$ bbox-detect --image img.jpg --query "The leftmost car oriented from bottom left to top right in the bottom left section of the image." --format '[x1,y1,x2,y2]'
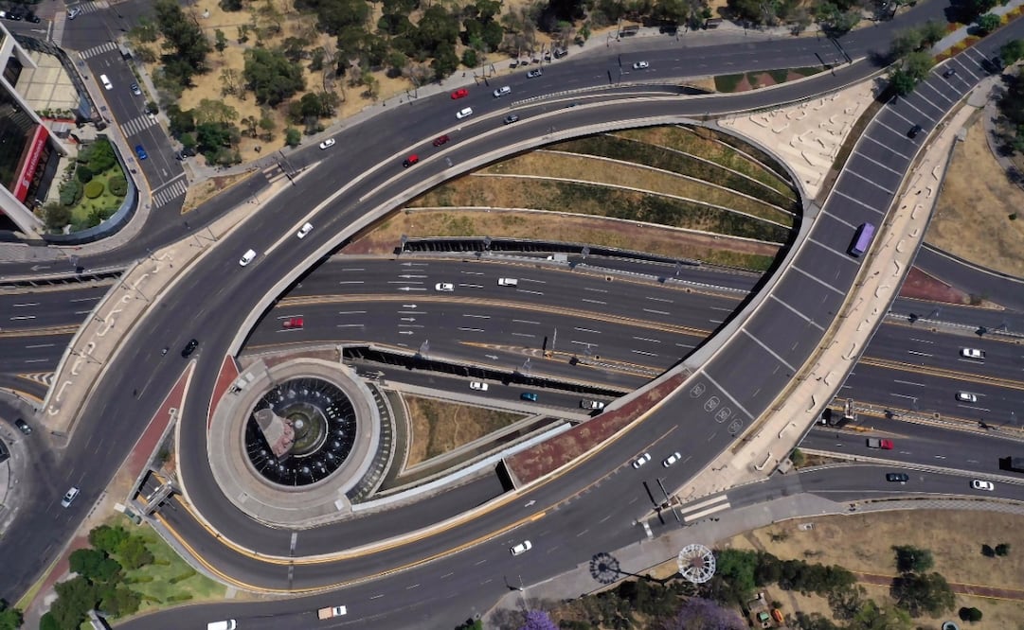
[60,485,80,508]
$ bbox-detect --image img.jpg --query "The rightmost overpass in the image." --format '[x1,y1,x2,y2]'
[516,48,991,489]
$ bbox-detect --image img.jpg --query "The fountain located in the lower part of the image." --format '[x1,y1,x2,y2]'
[206,357,379,527]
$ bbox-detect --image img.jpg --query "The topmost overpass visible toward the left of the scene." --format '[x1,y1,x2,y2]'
[90,206,393,390]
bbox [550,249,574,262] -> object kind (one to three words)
vehicle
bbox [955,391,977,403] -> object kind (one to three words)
vehicle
